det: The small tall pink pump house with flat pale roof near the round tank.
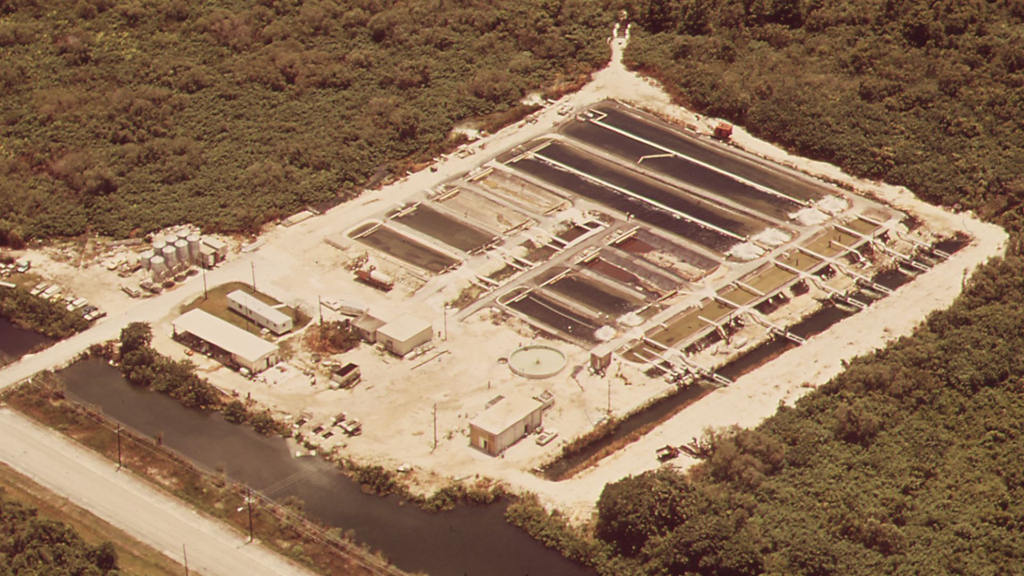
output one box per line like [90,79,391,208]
[590,345,612,371]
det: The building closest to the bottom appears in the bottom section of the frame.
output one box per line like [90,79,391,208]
[465,392,543,460]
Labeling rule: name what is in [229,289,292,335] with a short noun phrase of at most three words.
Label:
house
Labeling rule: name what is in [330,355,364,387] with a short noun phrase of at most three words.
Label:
truck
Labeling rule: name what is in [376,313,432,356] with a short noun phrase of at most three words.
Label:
building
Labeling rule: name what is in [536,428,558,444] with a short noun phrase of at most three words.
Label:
vehicle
